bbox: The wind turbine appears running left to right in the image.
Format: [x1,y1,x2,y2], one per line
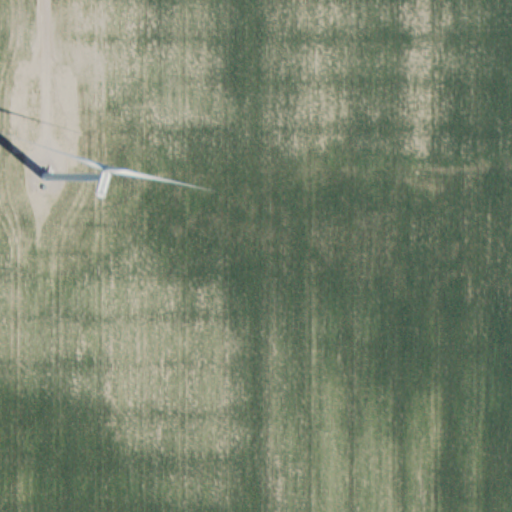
[37,144,214,196]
